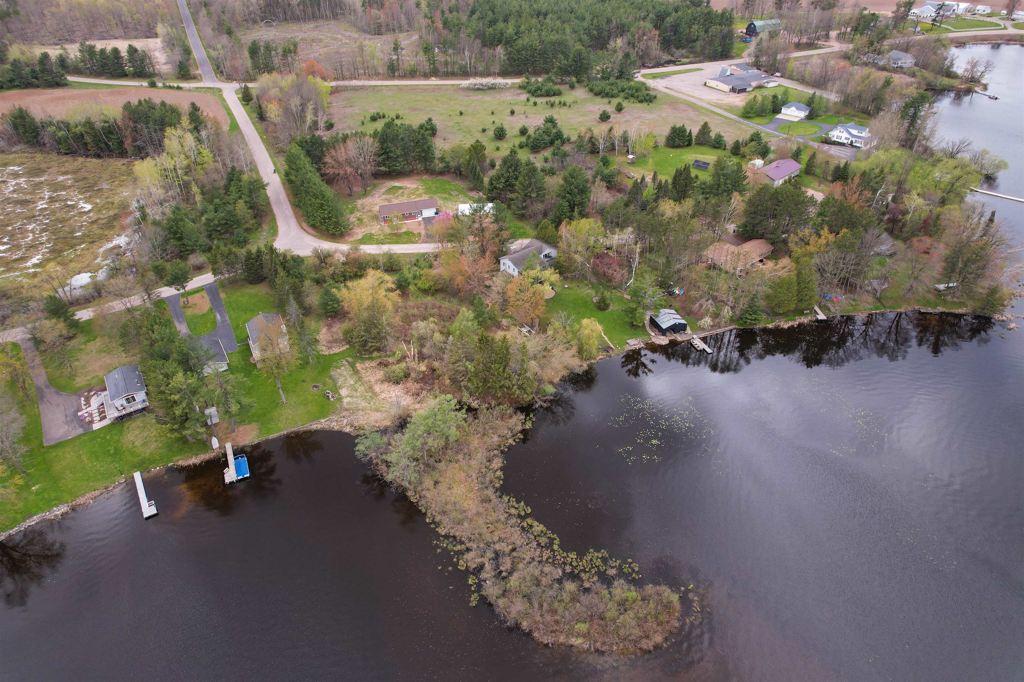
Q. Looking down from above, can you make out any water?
Yes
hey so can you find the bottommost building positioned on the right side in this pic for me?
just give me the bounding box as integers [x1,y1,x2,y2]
[647,307,690,336]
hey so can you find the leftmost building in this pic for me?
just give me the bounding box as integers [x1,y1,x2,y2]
[94,363,153,418]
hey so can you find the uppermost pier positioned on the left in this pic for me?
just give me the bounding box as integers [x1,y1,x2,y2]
[219,442,237,488]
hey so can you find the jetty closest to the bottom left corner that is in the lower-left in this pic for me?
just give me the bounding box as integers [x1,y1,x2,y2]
[134,471,159,522]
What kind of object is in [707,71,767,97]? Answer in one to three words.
building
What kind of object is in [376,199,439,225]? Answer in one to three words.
house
